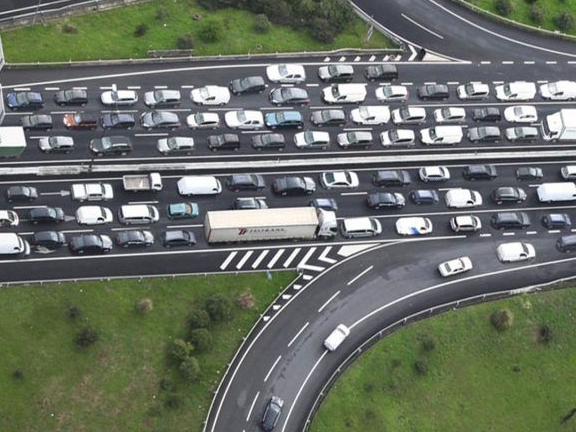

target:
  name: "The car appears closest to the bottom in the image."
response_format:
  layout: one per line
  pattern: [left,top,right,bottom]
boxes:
[261,395,285,432]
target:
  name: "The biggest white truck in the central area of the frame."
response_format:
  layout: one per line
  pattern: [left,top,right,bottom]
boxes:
[202,206,336,242]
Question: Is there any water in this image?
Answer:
No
